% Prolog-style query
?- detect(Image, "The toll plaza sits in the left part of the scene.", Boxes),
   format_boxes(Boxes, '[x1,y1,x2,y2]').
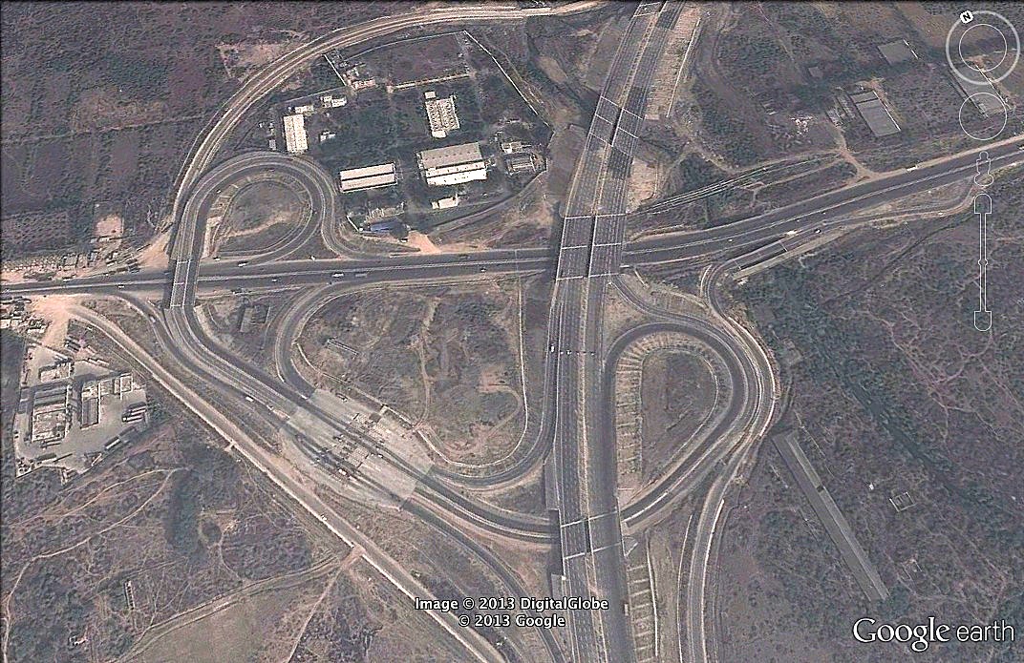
[276,389,432,509]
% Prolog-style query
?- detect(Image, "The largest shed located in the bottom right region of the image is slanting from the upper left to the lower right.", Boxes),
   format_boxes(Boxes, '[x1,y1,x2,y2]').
[773,431,884,607]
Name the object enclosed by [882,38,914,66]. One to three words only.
shed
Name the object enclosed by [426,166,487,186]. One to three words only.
building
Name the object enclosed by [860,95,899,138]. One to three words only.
shed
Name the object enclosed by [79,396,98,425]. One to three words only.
building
